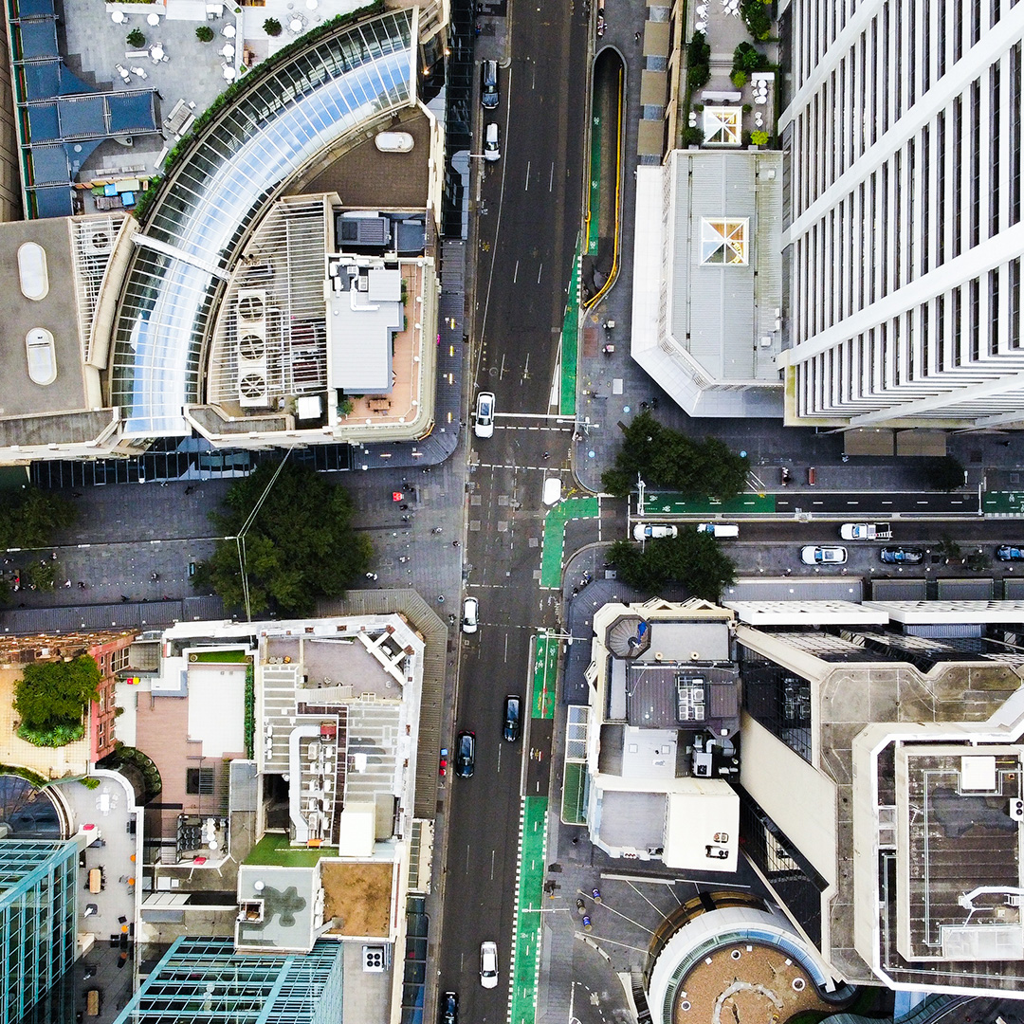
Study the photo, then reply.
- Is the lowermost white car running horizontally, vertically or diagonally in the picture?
vertically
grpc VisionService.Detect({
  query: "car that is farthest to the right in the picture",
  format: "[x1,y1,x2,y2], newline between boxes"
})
[993,542,1024,563]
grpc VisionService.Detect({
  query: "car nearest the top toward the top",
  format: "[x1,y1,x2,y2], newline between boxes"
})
[479,60,501,110]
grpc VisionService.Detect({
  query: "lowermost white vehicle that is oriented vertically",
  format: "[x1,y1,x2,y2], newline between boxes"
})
[478,939,500,987]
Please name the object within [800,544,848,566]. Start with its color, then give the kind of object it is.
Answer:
white car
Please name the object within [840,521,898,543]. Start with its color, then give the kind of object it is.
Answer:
white truck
